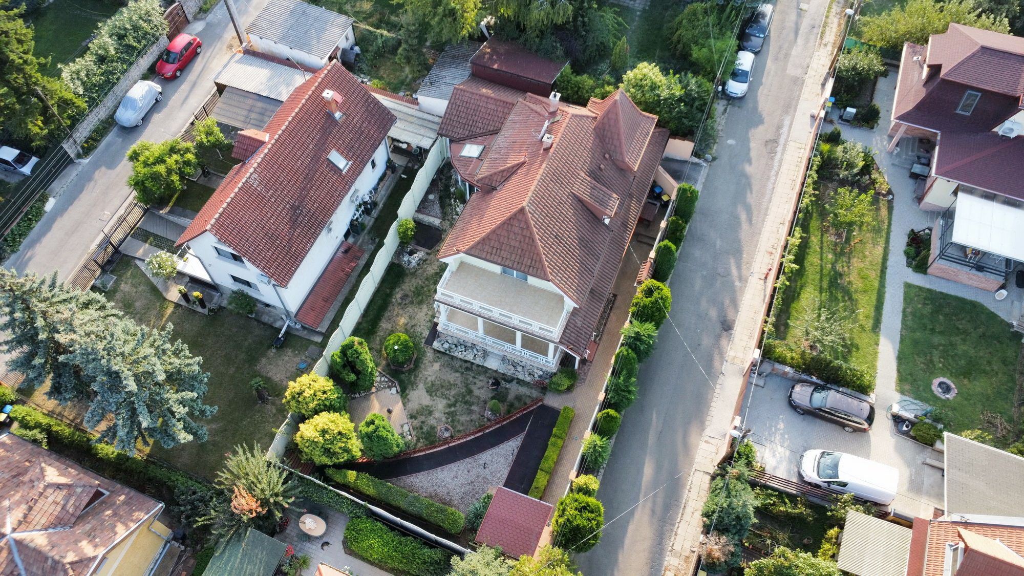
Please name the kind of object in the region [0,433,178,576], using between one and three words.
house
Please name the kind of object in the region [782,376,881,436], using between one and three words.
car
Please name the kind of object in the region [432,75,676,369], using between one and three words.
house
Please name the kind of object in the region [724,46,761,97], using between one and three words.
car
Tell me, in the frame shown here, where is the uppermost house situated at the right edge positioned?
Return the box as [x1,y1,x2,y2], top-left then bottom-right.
[876,0,1024,239]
